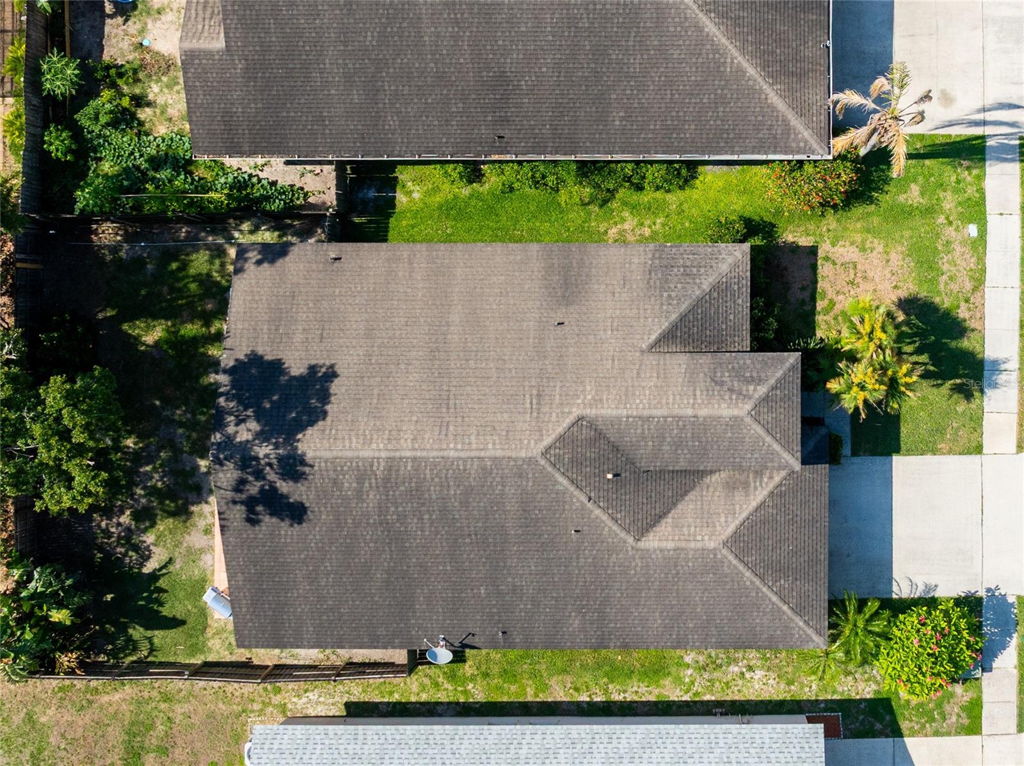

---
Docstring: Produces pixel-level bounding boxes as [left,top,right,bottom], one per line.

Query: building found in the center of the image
[209,241,828,651]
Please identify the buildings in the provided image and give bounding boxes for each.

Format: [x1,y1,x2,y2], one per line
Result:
[209,241,828,651]
[249,707,829,766]
[178,0,832,163]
